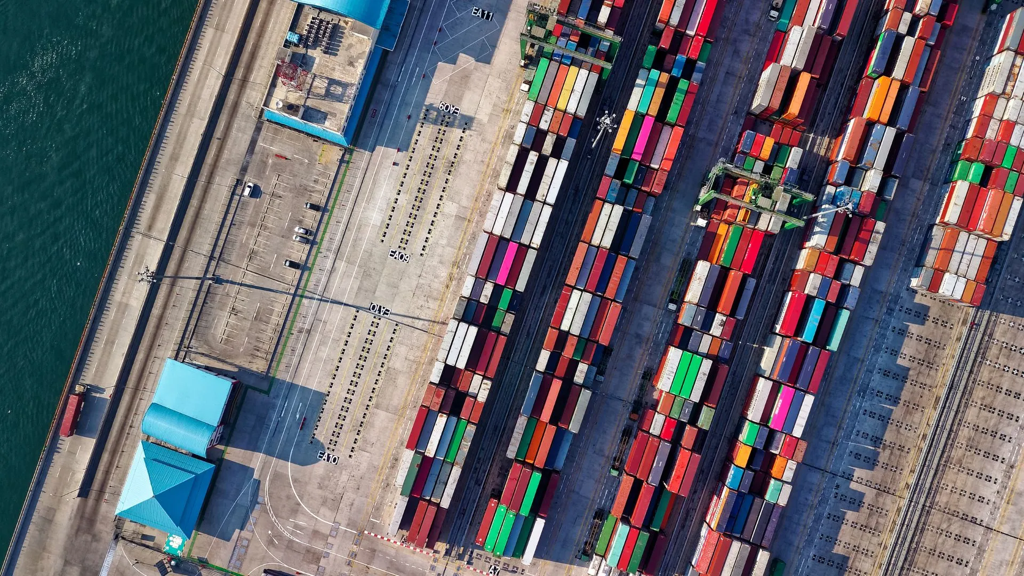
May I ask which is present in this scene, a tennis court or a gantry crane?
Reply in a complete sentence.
The image shows a gantry crane.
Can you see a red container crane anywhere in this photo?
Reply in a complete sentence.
No, there isn't any red container crane down there.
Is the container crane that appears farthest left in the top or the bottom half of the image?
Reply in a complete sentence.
It is in the top half that the container crane that appears farthest left appears.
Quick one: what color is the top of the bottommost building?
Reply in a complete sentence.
The roof of the bottommost building is blue.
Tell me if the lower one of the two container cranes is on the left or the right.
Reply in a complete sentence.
The lower one of the two container cranes is on the right side of the image.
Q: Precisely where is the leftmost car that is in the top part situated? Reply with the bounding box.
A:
[243,181,255,199]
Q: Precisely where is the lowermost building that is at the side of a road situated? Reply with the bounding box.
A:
[115,440,218,540]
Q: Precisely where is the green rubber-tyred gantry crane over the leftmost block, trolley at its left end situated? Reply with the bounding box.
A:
[514,1,628,97]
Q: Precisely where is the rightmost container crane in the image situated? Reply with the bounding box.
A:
[689,156,821,236]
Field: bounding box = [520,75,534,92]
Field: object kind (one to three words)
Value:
vehicle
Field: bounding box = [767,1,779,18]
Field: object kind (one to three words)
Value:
vehicle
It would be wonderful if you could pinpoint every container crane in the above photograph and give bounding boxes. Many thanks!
[514,1,628,97]
[689,156,821,236]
